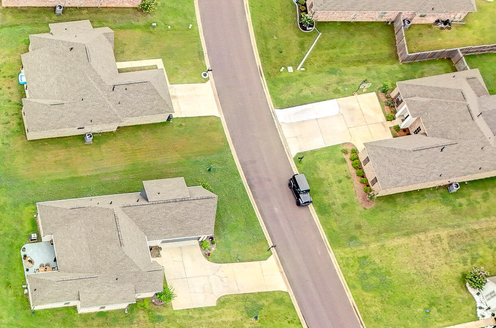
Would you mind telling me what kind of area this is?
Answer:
residential area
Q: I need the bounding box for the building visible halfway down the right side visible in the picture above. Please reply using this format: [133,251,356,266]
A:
[357,67,496,196]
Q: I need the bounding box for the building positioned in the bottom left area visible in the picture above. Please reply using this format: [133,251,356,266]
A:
[26,174,216,314]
